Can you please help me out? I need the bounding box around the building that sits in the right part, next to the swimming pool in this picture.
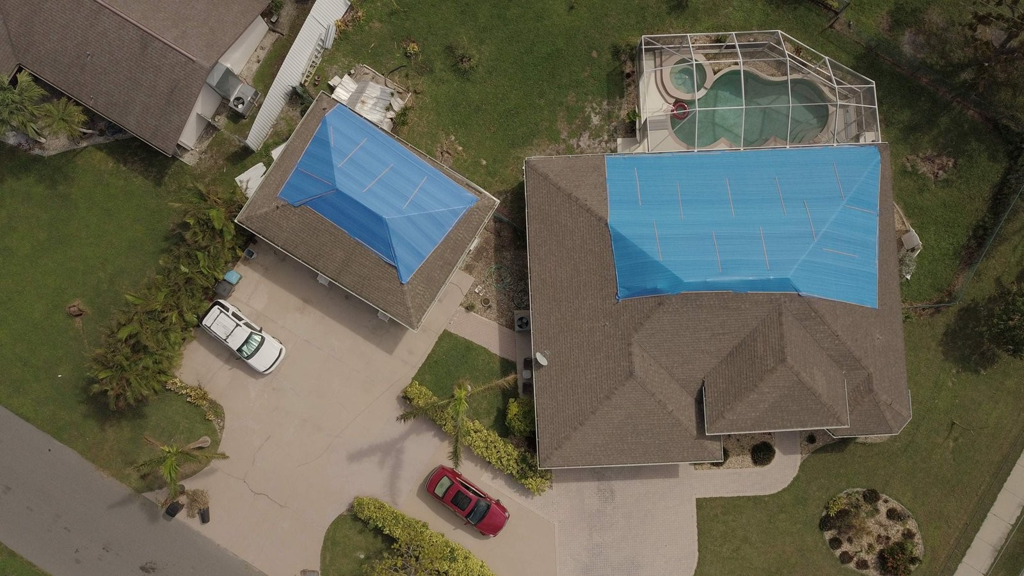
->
[522,141,914,471]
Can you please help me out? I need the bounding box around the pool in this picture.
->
[656,45,835,149]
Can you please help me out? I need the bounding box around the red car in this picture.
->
[425,465,508,535]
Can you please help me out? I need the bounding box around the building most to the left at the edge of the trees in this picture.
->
[0,0,270,158]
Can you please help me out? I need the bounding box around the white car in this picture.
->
[199,300,288,375]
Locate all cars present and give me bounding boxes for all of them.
[425,465,508,535]
[199,300,288,375]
